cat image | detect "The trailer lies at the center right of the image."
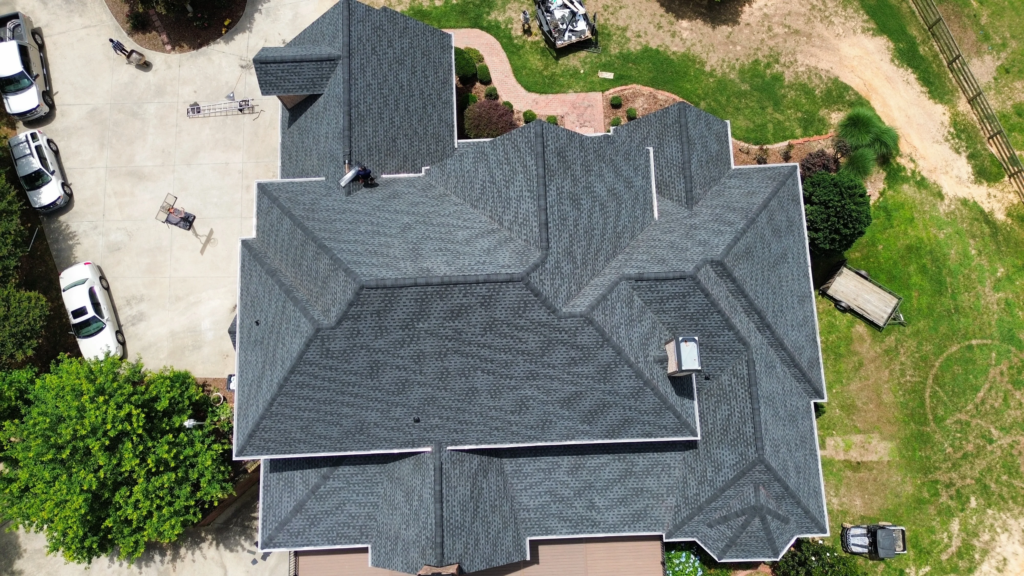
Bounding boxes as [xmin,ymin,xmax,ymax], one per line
[821,258,911,328]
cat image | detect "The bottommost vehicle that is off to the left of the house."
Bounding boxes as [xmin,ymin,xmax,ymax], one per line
[57,263,125,368]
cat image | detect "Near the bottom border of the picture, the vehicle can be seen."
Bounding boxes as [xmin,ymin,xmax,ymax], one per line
[838,519,911,560]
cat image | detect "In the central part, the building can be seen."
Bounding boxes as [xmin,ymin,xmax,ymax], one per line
[228,0,830,576]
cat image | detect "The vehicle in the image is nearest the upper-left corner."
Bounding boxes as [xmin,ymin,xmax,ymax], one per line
[0,12,54,125]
